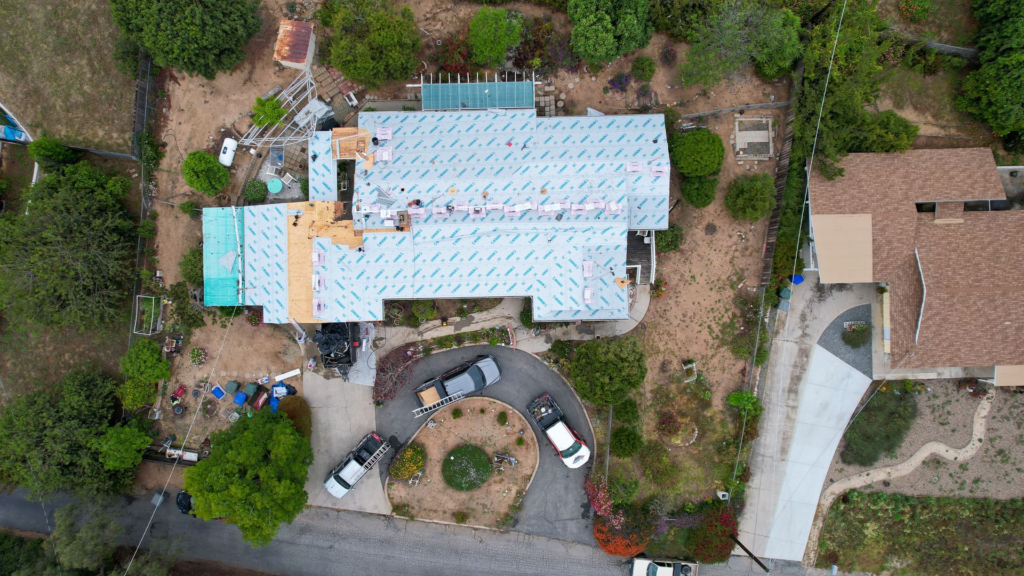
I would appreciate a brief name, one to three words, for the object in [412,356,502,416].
truck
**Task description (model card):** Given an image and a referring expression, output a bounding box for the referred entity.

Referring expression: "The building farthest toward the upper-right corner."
[804,145,1024,386]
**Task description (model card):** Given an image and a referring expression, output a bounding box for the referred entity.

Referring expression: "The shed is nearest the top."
[271,19,315,68]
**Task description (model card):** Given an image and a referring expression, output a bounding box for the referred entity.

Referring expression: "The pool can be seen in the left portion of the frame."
[0,100,37,145]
